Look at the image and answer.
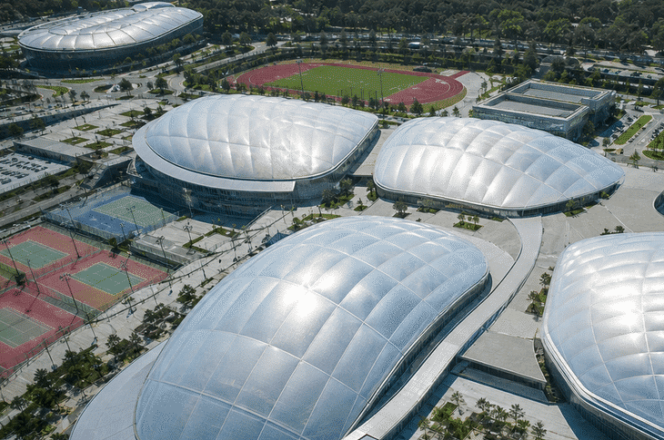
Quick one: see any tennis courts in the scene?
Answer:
Yes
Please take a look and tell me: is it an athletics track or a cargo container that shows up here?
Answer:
athletics track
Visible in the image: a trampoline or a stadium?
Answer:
stadium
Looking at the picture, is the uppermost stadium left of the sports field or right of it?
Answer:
on its left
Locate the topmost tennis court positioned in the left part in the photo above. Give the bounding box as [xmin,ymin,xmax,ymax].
[46,185,179,241]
